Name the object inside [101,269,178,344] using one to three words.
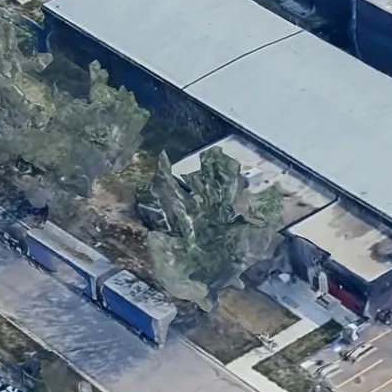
trailer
